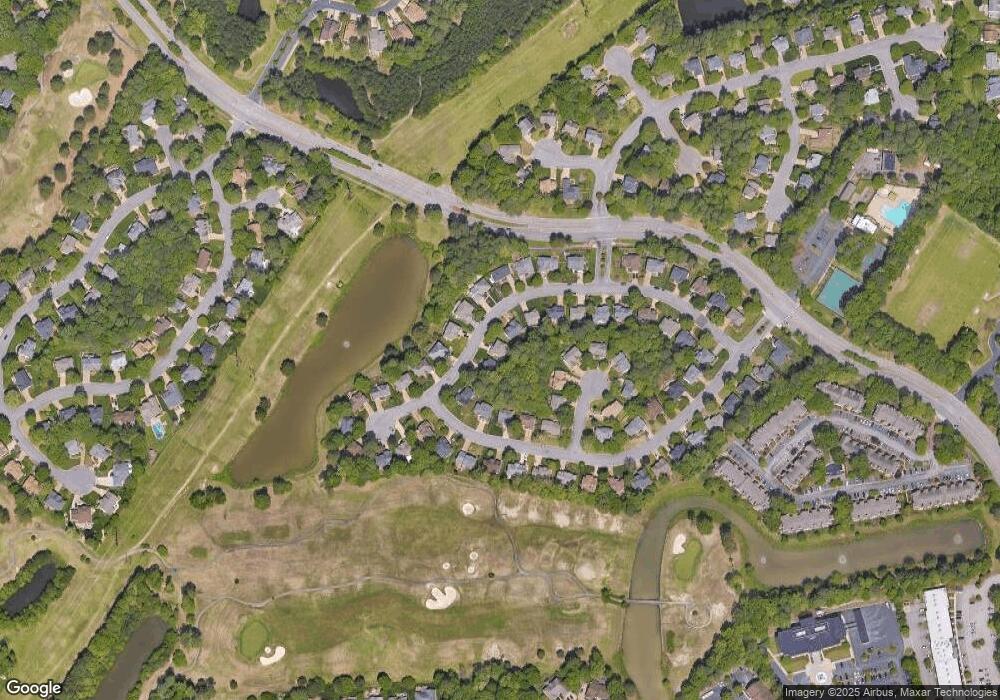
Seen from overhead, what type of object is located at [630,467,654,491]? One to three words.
house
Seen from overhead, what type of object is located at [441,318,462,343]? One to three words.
house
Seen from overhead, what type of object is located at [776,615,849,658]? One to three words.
building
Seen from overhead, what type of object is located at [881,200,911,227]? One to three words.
swimming pool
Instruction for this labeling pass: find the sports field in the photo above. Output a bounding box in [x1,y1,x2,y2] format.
[882,206,1000,347]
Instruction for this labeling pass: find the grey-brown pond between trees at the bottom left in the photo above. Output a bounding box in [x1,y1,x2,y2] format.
[96,617,167,700]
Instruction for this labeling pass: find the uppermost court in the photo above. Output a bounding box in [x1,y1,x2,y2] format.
[864,242,891,269]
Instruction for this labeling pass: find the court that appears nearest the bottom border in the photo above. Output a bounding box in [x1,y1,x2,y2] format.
[816,268,866,314]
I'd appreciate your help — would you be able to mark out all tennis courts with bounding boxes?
[816,268,866,314]
[864,242,891,269]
